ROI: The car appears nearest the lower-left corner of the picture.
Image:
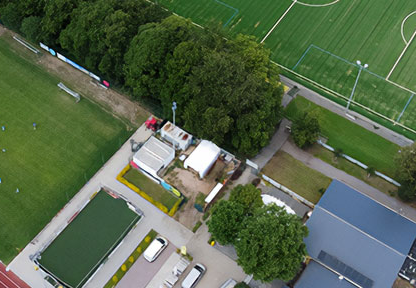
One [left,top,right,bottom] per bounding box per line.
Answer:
[144,237,167,261]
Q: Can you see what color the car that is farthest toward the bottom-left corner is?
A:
white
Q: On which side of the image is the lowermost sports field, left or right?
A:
left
